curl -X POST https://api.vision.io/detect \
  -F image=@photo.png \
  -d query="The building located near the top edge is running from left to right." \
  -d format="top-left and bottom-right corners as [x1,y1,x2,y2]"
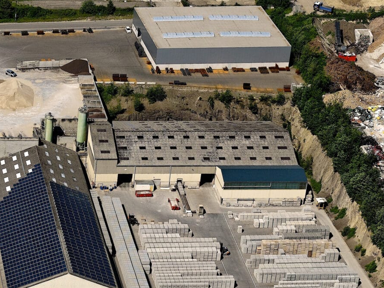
[139,4,292,69]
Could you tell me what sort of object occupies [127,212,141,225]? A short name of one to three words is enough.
vehicle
